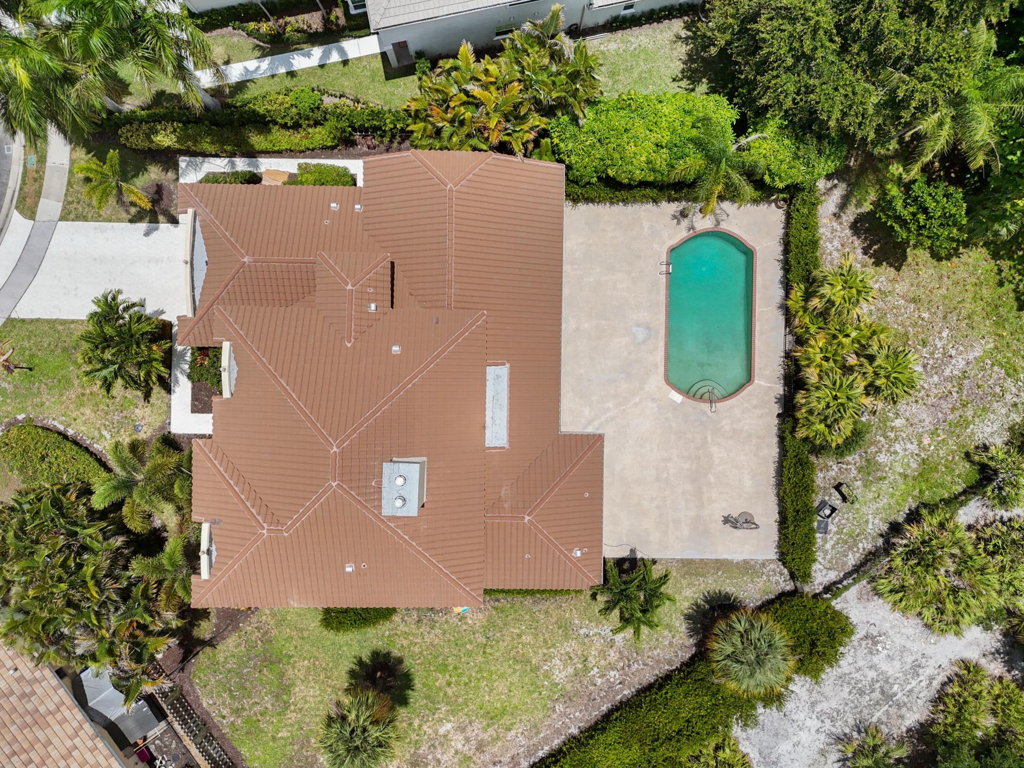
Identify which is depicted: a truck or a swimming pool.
swimming pool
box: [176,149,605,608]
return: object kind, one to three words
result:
house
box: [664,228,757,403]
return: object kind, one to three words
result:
swimming pool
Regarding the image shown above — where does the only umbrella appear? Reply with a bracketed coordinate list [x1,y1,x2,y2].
[722,513,759,529]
